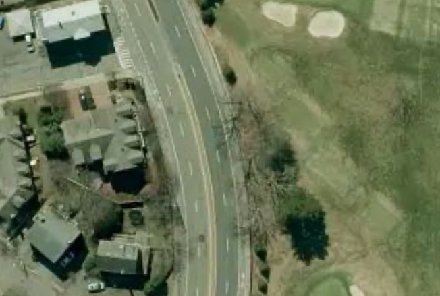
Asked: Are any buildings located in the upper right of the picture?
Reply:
No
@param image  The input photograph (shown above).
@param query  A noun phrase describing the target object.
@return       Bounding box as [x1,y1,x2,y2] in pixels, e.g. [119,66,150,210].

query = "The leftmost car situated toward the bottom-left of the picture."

[61,251,76,267]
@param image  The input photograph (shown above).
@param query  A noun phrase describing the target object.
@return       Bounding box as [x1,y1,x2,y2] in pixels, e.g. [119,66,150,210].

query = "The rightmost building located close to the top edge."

[40,0,107,46]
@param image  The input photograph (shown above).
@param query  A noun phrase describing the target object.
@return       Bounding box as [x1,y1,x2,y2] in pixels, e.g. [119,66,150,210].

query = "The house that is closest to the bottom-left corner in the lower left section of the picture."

[26,206,81,262]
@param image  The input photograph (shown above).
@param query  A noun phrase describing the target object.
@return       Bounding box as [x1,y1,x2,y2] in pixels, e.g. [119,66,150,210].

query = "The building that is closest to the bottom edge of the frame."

[97,239,151,276]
